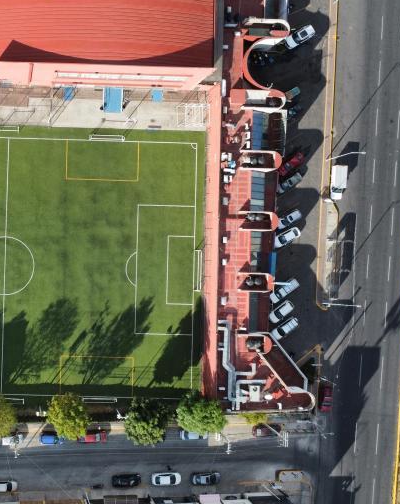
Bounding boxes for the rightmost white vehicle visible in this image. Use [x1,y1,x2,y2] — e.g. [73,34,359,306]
[328,165,349,199]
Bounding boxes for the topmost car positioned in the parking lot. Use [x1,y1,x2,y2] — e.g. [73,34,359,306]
[285,22,318,49]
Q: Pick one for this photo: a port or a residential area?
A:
residential area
